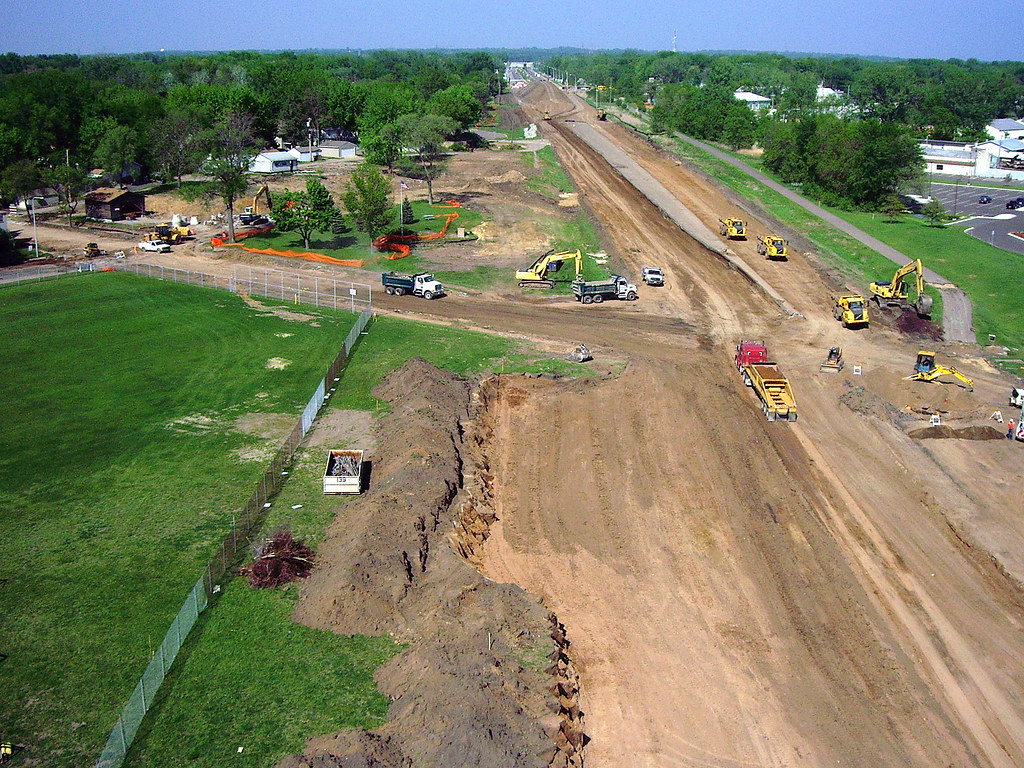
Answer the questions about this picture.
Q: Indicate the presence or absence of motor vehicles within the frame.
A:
Yes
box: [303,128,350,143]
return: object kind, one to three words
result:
house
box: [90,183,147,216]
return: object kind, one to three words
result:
shed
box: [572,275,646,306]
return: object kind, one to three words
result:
truck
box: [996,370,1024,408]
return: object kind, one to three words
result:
work vehicle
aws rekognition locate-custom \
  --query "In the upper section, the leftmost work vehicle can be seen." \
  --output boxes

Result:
[77,238,110,257]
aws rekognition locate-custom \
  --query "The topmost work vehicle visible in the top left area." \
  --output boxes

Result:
[238,177,282,225]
